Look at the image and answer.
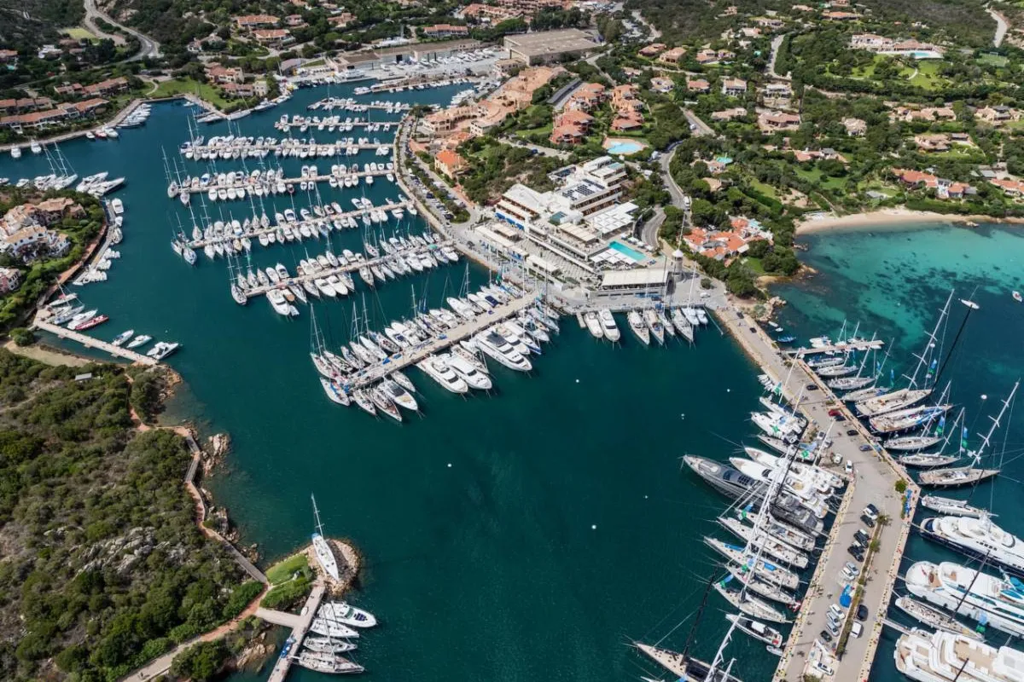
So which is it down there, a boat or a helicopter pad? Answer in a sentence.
It is a boat that can be seen here.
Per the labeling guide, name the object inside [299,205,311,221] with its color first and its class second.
white boat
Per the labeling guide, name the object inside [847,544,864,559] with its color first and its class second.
black car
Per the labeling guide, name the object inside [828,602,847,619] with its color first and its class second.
white car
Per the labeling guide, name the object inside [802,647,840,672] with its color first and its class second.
white boat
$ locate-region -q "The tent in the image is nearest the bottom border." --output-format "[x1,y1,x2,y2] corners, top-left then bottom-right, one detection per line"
[838,574,860,603]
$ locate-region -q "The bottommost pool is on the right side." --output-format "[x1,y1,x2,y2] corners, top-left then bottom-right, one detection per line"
[607,239,649,263]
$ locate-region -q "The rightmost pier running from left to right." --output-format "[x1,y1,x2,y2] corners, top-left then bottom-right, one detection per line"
[781,342,884,354]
